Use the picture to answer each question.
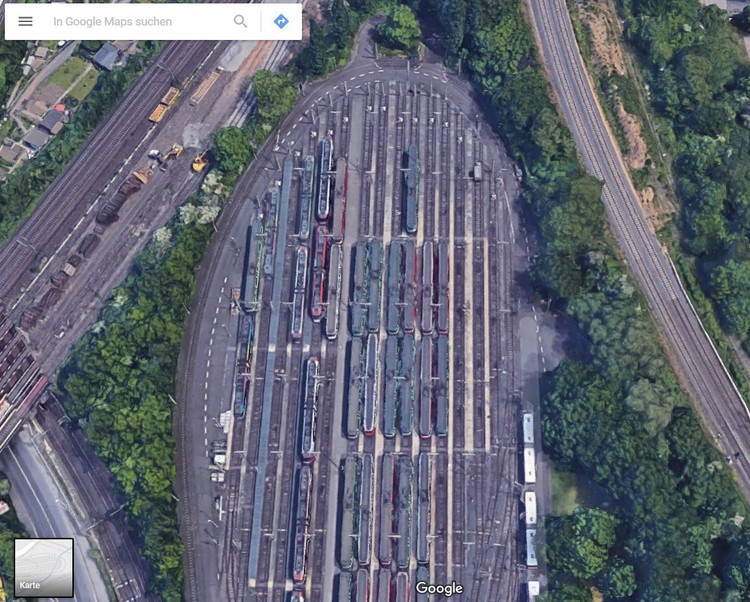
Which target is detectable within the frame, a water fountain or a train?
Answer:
train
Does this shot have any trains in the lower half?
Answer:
Yes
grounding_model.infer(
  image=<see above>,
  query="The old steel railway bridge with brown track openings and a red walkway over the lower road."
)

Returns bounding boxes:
[0,300,64,456]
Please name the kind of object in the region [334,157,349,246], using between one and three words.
train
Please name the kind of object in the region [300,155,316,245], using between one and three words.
train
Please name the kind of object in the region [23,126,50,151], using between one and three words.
house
